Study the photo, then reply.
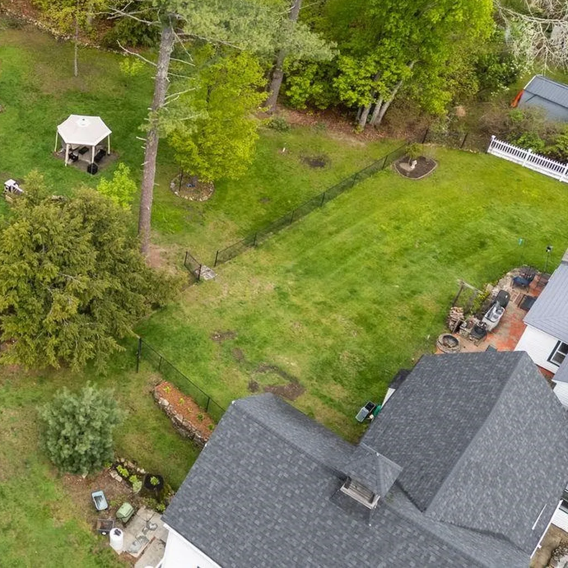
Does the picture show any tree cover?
Yes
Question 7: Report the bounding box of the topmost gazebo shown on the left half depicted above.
[55,114,112,166]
